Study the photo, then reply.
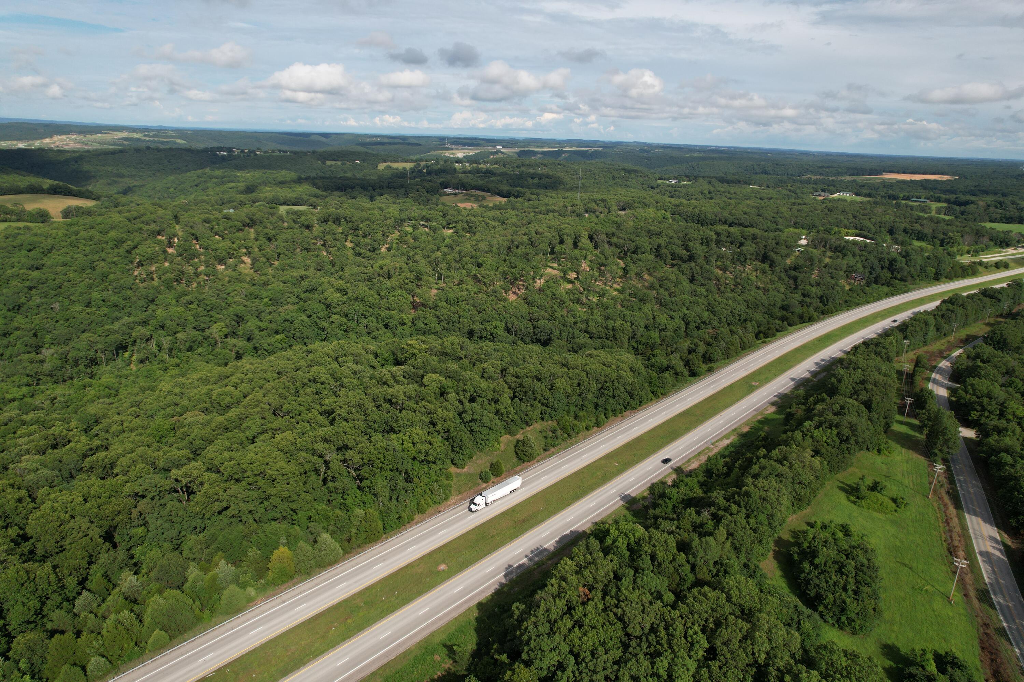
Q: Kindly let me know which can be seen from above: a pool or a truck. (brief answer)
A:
truck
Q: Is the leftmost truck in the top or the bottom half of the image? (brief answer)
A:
bottom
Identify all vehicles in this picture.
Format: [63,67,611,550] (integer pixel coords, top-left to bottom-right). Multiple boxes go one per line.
[469,475,521,510]
[663,457,673,463]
